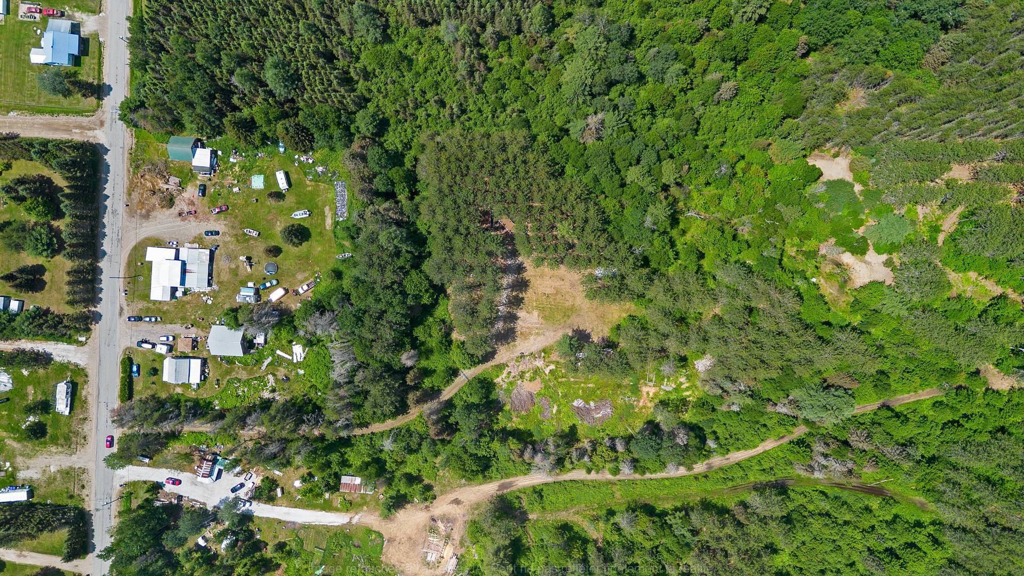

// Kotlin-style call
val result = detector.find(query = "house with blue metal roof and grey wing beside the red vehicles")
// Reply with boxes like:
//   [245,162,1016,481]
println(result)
[29,19,84,68]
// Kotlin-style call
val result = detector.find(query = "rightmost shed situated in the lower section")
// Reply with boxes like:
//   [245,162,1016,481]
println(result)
[341,474,372,493]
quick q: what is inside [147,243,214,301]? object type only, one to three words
house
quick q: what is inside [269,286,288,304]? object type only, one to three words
vehicle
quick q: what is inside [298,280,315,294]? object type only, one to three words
vehicle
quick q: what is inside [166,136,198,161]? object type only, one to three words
barn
